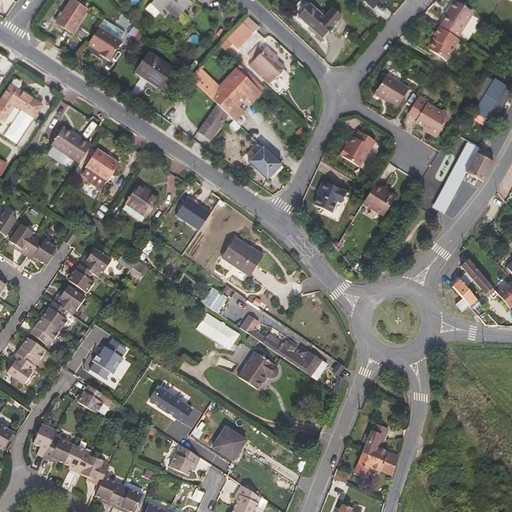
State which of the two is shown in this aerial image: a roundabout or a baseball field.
roundabout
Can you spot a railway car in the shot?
No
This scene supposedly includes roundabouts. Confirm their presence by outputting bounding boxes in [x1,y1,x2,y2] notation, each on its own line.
[354,278,440,364]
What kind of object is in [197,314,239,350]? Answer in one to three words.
barn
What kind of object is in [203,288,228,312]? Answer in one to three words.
greenhouse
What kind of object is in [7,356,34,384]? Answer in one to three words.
house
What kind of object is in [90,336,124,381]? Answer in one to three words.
house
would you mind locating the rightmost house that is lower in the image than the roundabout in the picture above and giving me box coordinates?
[354,424,398,482]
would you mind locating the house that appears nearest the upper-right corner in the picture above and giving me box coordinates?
[440,2,474,38]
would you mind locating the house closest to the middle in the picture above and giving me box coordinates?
[222,236,263,276]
